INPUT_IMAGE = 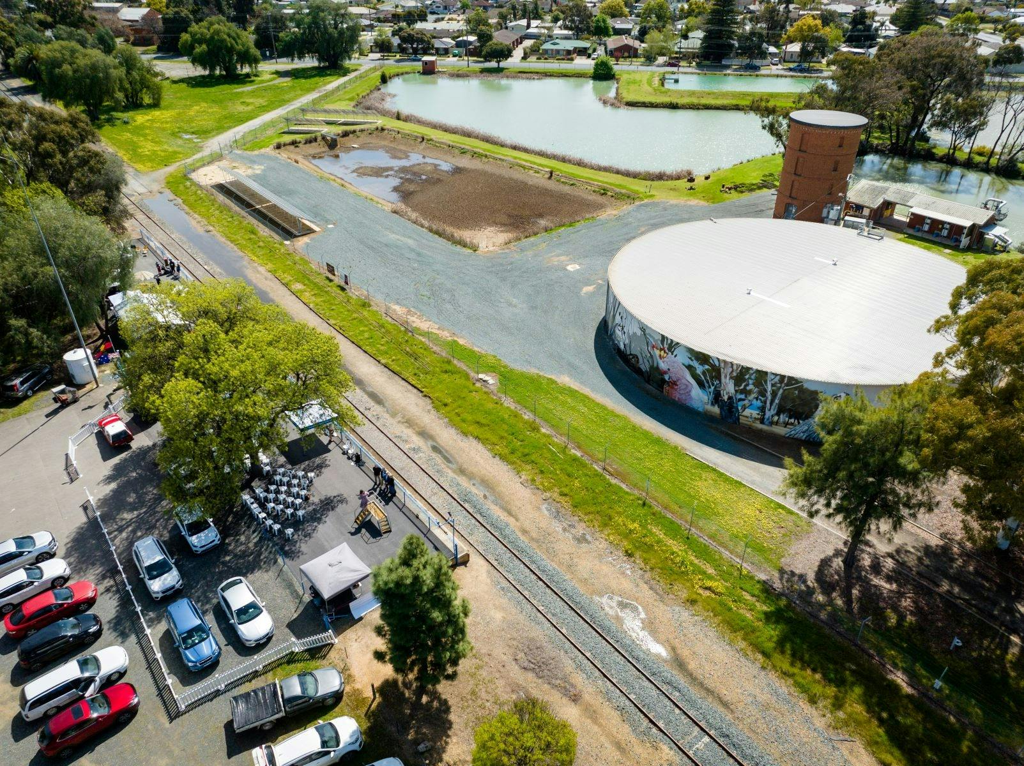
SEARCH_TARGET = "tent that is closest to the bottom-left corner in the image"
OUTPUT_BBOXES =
[300,543,373,625]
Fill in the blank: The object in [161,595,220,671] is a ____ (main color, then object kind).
blue car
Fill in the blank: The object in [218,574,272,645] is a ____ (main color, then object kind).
white car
